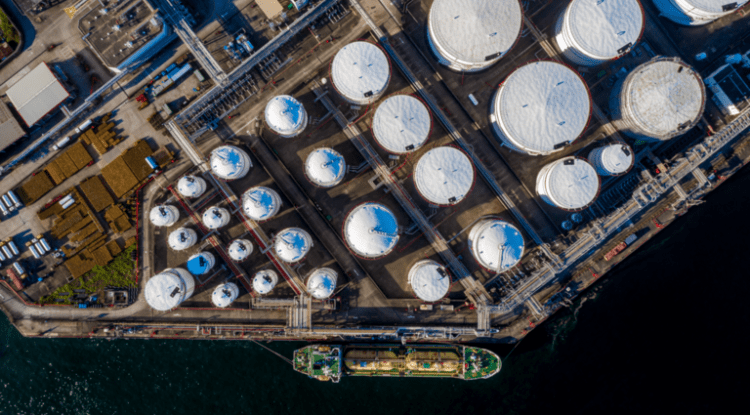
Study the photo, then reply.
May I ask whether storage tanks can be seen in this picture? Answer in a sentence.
Yes, there's a storage tank here.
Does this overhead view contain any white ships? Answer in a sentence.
No, this view has no white ship in it.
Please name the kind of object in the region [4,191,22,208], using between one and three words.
vehicle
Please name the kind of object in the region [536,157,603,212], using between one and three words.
storage tank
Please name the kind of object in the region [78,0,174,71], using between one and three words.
building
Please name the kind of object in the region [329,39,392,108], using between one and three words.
storage tank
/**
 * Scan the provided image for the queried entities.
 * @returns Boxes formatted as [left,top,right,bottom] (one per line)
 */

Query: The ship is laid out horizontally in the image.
[293,342,502,382]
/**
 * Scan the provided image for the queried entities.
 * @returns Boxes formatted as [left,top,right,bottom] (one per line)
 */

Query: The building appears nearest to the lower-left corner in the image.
[103,290,129,304]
